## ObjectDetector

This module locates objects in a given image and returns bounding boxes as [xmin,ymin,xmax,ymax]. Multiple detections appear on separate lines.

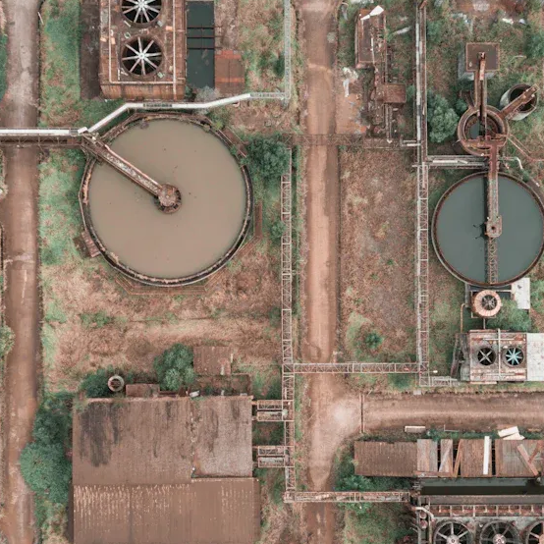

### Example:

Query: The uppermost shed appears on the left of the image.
[193,347,231,374]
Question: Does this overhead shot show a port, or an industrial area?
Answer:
industrial area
